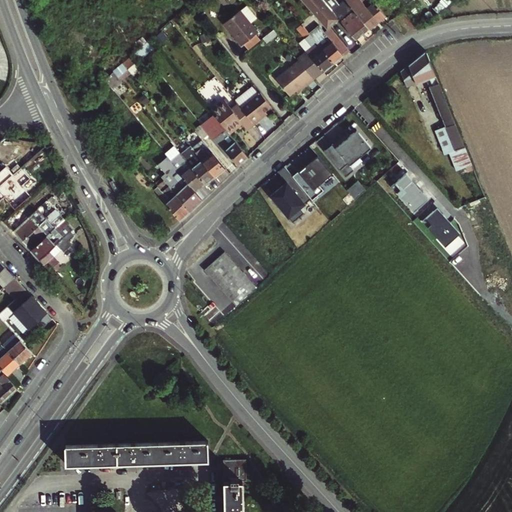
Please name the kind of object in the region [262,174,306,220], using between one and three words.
house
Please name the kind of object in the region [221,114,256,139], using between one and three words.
house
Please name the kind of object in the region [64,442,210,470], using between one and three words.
building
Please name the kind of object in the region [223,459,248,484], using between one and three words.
building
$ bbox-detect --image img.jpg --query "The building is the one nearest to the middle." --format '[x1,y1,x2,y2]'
[204,252,257,304]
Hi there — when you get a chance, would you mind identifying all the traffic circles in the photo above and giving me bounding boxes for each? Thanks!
[102,248,179,325]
